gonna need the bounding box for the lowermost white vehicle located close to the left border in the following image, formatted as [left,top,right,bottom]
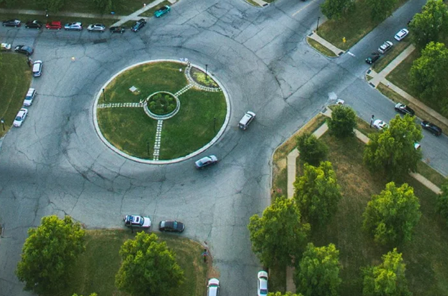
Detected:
[12,107,30,128]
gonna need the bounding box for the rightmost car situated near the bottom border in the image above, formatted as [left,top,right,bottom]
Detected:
[256,273,269,296]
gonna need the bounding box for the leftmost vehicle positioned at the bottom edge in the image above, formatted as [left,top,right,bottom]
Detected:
[207,275,219,296]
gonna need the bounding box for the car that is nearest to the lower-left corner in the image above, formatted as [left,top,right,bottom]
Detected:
[124,215,151,229]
